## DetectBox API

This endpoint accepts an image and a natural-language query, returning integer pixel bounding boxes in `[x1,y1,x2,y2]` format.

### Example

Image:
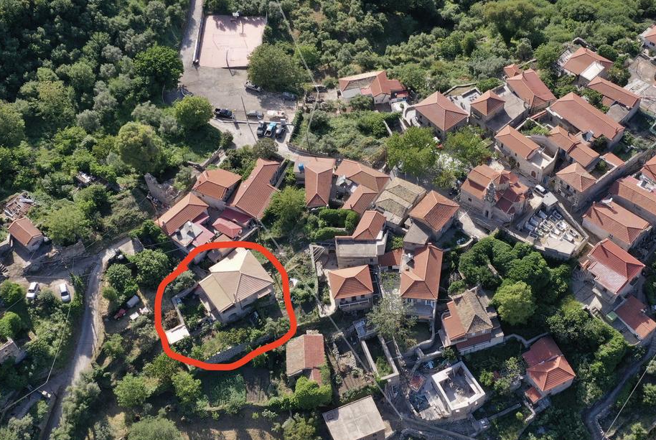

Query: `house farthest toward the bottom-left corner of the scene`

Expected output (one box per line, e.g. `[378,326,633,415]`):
[0,340,25,363]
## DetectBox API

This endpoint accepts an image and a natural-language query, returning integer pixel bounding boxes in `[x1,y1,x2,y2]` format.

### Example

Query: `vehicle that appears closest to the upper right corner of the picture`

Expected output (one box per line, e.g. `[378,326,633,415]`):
[532,180,549,193]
